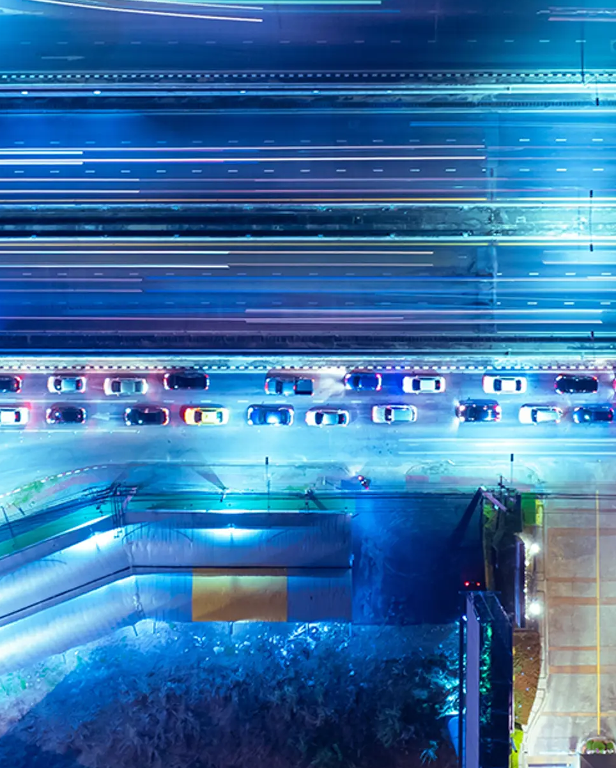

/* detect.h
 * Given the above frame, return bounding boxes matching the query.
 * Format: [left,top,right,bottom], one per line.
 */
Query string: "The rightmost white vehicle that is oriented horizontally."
[520,405,563,425]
